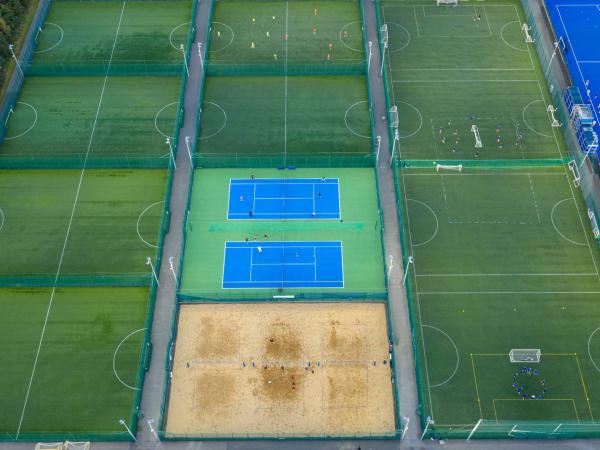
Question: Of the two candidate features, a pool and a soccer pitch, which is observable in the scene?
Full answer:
It is a soccer pitch that can be seen here.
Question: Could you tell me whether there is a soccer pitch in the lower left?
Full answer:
Yes, in the lower left there is a soccer pitch.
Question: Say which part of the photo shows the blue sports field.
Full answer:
Look in the top right portion of the view to spot the blue sports field.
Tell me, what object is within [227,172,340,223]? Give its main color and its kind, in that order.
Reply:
blue tennis court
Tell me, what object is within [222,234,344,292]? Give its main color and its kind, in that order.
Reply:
blue tennis court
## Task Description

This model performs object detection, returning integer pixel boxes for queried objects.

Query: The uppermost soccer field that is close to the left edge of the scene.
[25,2,195,76]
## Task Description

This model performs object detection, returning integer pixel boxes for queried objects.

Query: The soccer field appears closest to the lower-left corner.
[0,287,154,435]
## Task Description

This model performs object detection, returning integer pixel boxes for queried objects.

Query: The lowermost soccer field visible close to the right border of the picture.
[398,167,600,437]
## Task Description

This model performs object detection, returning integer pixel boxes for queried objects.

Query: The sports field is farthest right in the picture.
[544,0,600,159]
